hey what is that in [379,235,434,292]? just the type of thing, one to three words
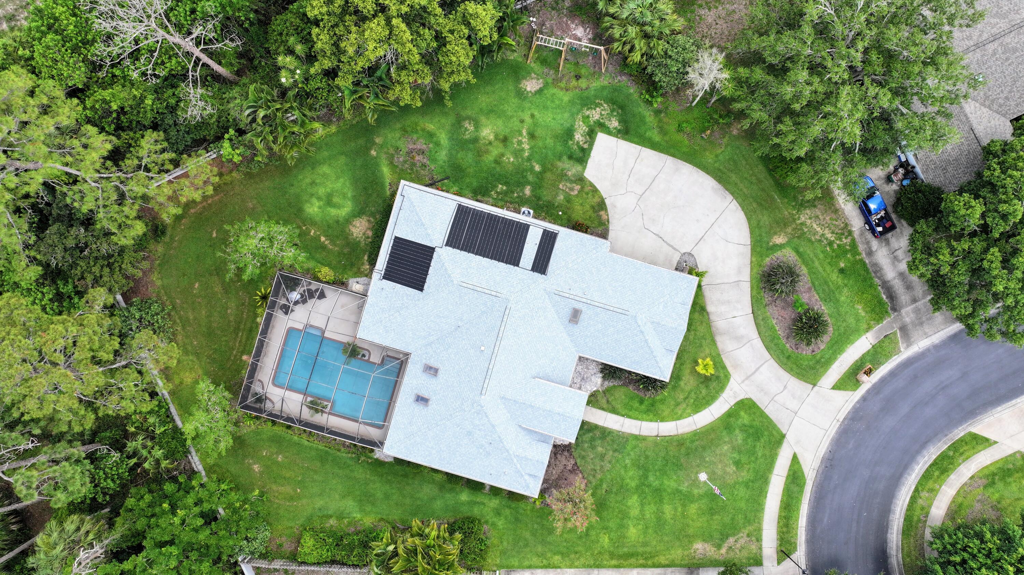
solar panel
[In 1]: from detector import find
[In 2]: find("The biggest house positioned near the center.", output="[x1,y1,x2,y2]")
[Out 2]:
[354,178,701,499]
